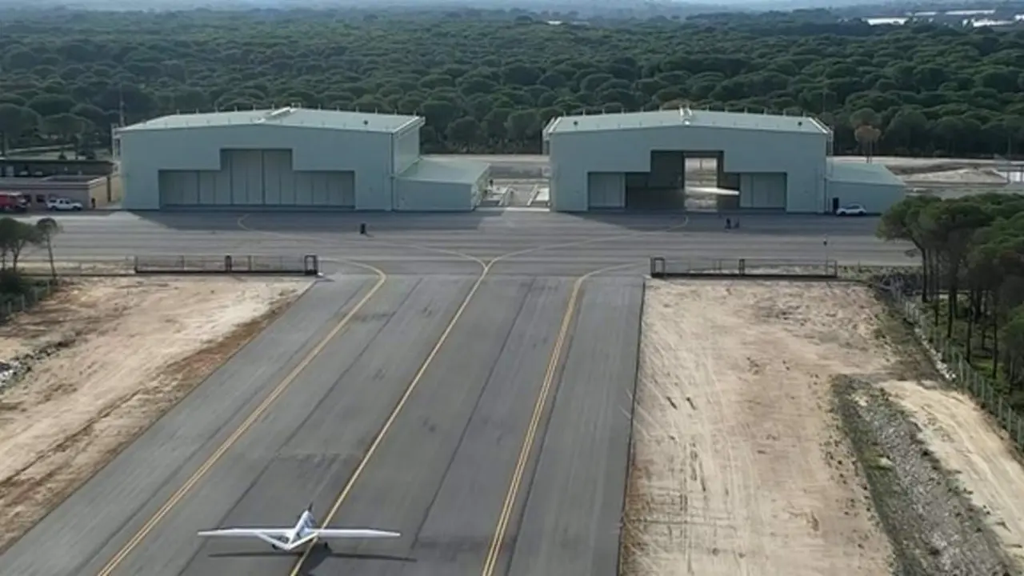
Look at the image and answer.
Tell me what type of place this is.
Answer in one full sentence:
This image shows an airport.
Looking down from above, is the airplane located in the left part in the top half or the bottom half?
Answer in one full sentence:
The airplane located in the left part is in the bottom half of the image.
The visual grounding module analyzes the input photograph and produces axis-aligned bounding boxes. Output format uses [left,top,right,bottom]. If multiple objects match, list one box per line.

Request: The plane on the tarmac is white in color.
[197,501,399,551]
